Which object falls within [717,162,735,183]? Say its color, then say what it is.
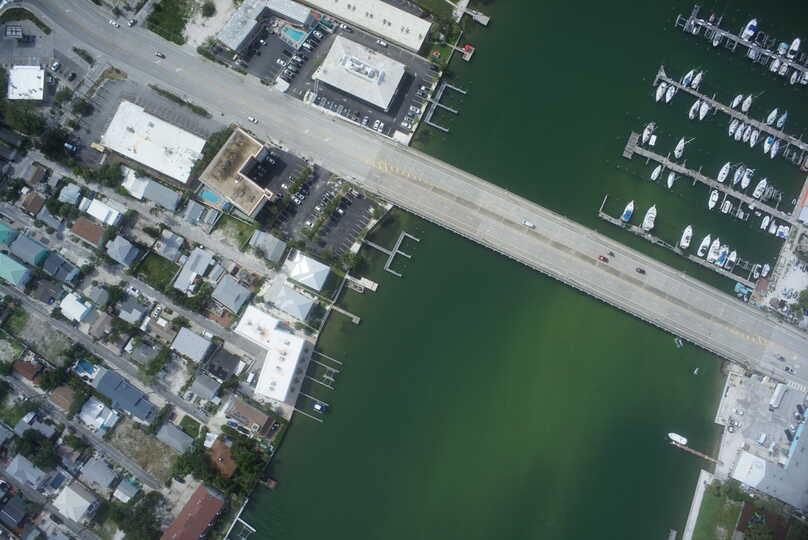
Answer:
white boat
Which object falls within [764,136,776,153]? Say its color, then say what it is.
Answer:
white boat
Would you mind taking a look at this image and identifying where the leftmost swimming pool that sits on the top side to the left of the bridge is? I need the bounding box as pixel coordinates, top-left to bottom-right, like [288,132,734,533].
[194,182,235,216]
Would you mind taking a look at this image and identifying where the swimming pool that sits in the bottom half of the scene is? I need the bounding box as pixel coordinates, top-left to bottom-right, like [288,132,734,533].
[72,361,98,384]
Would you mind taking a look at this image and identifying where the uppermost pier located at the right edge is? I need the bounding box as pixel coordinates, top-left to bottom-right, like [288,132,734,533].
[675,3,808,72]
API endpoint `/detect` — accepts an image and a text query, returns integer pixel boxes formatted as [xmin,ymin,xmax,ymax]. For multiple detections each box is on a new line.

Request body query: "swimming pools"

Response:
[72,361,98,384]
[279,22,311,48]
[194,182,235,216]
